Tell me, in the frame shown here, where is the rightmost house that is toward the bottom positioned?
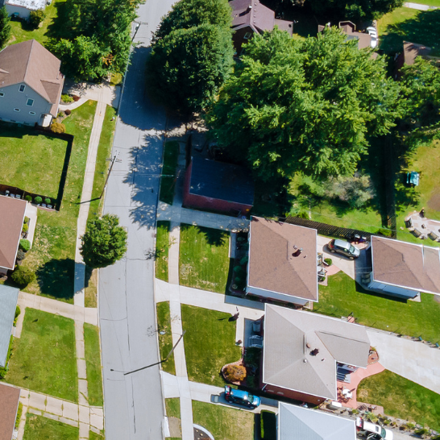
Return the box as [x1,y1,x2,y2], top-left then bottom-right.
[366,235,440,304]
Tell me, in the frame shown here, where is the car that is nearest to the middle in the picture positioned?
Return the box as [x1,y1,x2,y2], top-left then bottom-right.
[328,234,362,257]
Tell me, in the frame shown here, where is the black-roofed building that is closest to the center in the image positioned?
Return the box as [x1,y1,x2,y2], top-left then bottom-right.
[184,156,257,217]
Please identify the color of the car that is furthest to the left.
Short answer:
blue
